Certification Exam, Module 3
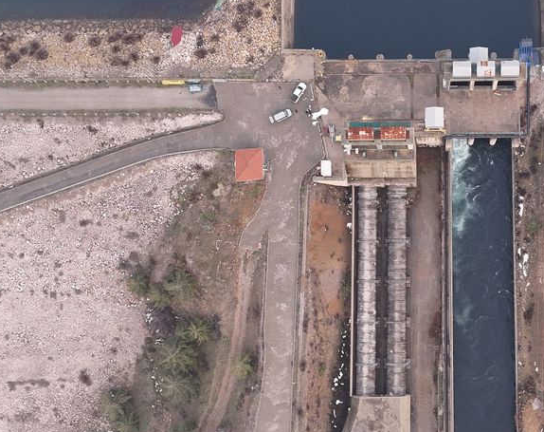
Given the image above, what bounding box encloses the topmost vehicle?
[289,82,309,104]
